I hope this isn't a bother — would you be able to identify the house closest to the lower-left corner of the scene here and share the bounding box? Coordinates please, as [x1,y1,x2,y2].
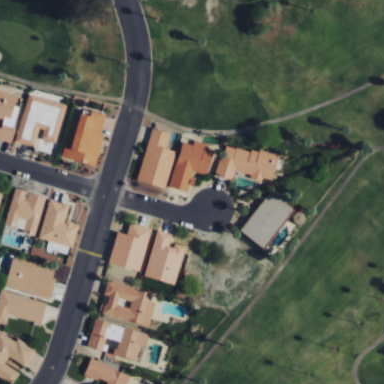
[0,330,34,382]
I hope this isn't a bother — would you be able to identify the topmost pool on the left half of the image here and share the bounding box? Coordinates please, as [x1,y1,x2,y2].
[2,234,23,246]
